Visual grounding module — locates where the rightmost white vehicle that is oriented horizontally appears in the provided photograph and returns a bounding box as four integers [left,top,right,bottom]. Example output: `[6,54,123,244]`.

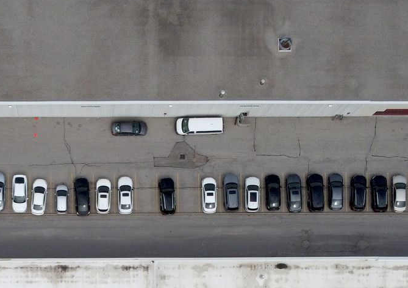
[175,115,224,136]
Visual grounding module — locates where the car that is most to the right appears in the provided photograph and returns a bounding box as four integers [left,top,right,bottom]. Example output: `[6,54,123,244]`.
[390,175,408,213]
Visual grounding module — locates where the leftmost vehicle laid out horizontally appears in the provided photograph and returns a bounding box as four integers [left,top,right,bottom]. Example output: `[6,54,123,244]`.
[111,120,147,137]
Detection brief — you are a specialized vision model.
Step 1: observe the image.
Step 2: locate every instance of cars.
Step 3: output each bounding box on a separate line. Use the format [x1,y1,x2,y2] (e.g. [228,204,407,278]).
[117,177,135,215]
[200,177,218,215]
[158,178,176,216]
[243,177,262,213]
[349,175,368,211]
[31,178,48,216]
[95,179,113,215]
[264,175,282,211]
[326,174,343,210]
[369,175,389,214]
[10,175,29,214]
[305,174,325,213]
[111,120,147,137]
[285,174,303,213]
[54,185,70,214]
[73,177,91,217]
[0,173,7,211]
[222,174,240,213]
[390,175,408,213]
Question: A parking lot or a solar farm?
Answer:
parking lot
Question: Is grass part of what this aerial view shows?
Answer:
No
